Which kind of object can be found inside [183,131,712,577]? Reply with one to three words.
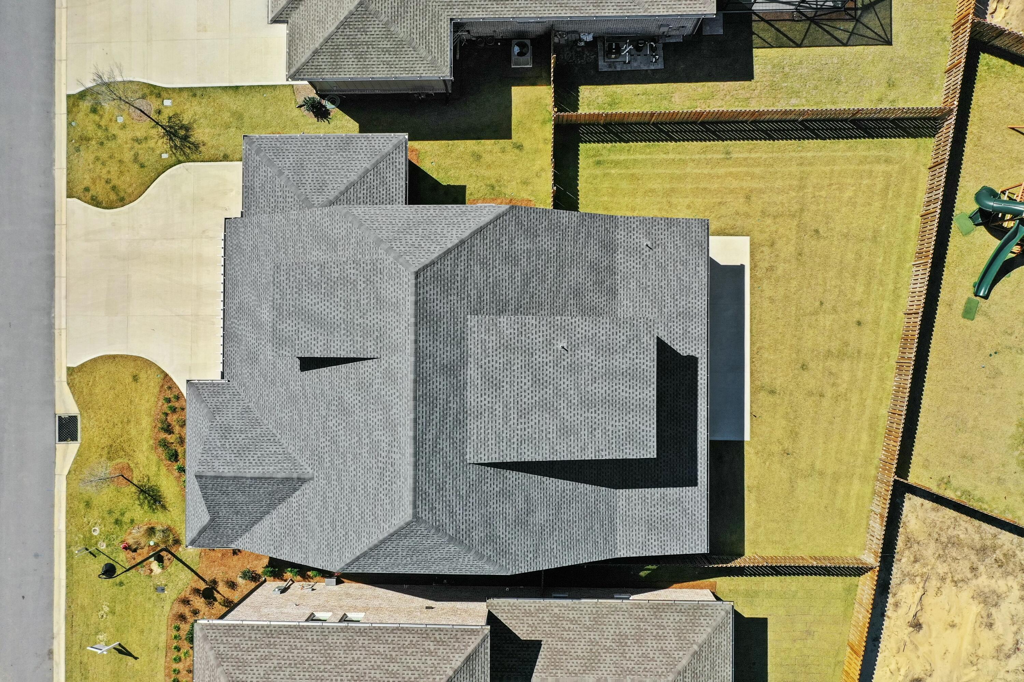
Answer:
house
